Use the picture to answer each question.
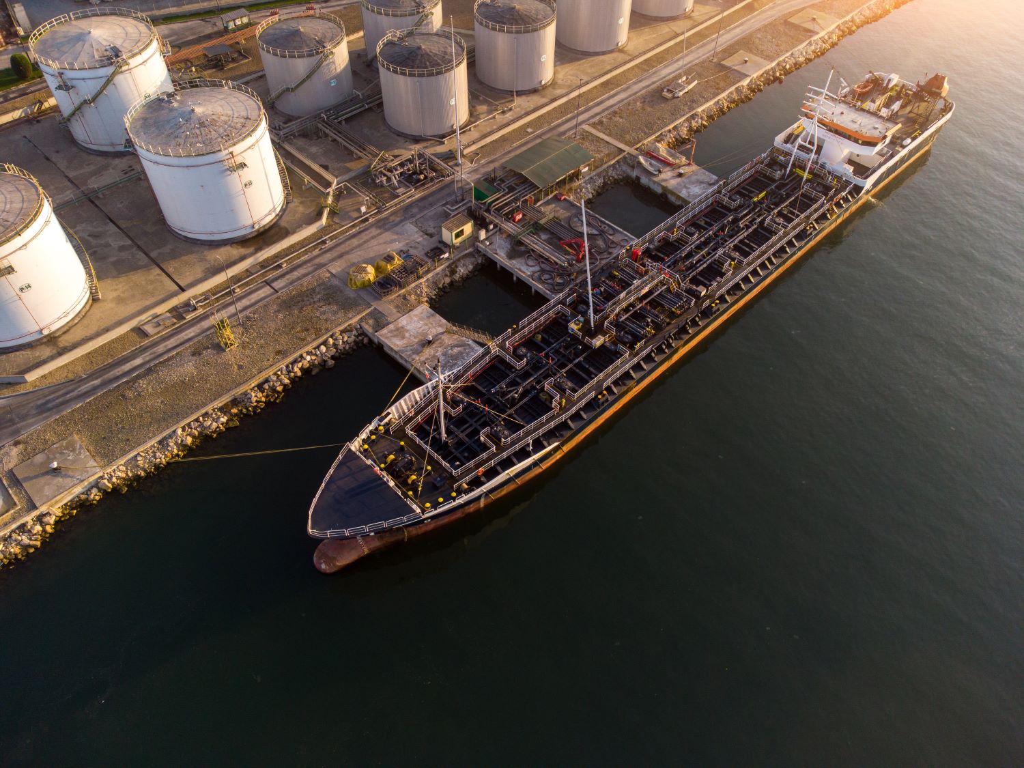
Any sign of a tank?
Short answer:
Yes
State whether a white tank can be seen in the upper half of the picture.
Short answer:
Yes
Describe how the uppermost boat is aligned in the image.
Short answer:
diagonally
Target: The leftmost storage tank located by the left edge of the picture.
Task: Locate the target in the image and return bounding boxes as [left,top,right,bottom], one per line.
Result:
[0,163,95,353]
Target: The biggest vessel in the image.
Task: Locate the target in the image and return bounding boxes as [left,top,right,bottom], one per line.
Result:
[306,56,960,577]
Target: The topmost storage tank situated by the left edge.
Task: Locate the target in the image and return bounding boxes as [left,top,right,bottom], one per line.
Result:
[27,2,174,153]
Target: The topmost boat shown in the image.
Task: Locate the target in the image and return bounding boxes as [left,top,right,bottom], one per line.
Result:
[659,28,699,100]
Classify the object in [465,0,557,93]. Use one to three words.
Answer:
storage tank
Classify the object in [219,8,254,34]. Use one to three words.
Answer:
shed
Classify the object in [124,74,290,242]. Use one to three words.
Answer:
storage tank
